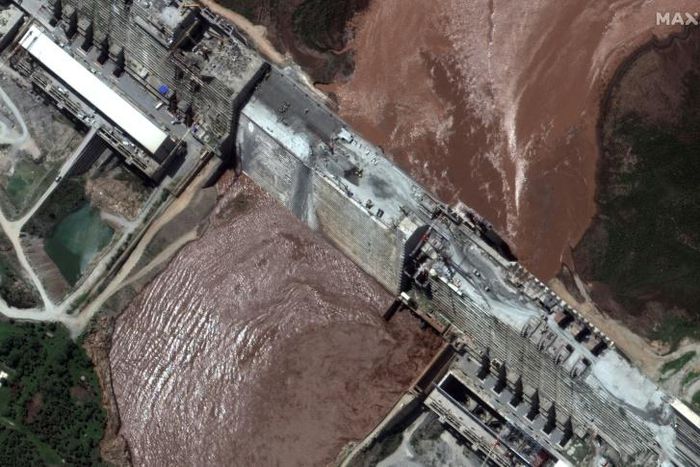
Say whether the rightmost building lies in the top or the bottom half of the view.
bottom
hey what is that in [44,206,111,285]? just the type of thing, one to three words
pond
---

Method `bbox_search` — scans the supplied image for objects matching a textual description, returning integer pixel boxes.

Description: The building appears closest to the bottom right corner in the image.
[649,378,700,427]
